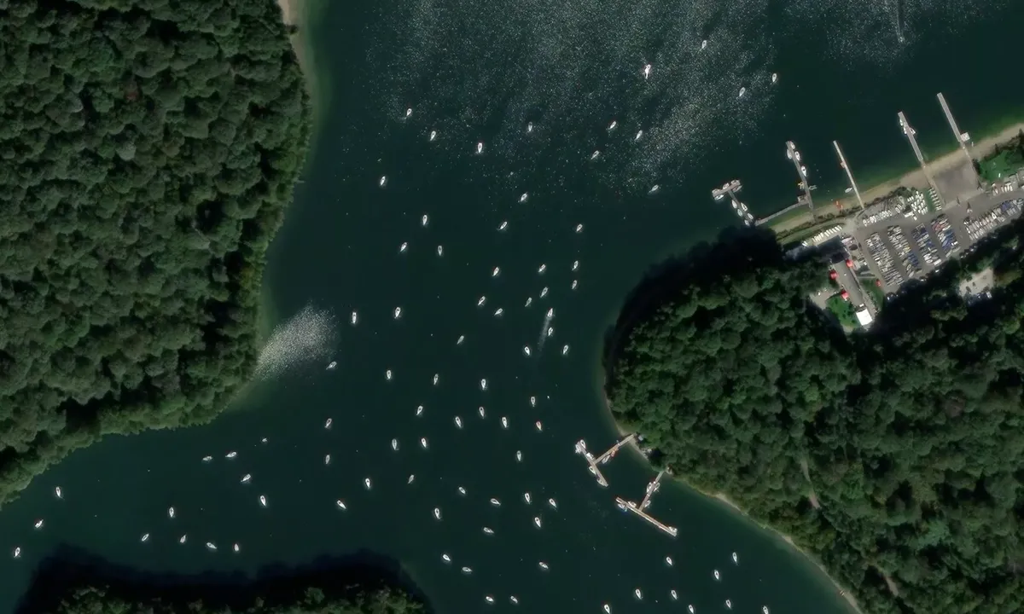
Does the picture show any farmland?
No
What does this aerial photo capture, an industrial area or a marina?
marina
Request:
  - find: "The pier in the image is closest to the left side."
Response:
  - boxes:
[577,437,631,487]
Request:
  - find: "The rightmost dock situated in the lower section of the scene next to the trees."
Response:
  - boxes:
[615,470,676,537]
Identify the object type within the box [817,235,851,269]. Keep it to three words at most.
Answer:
building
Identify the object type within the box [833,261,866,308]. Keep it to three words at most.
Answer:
building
